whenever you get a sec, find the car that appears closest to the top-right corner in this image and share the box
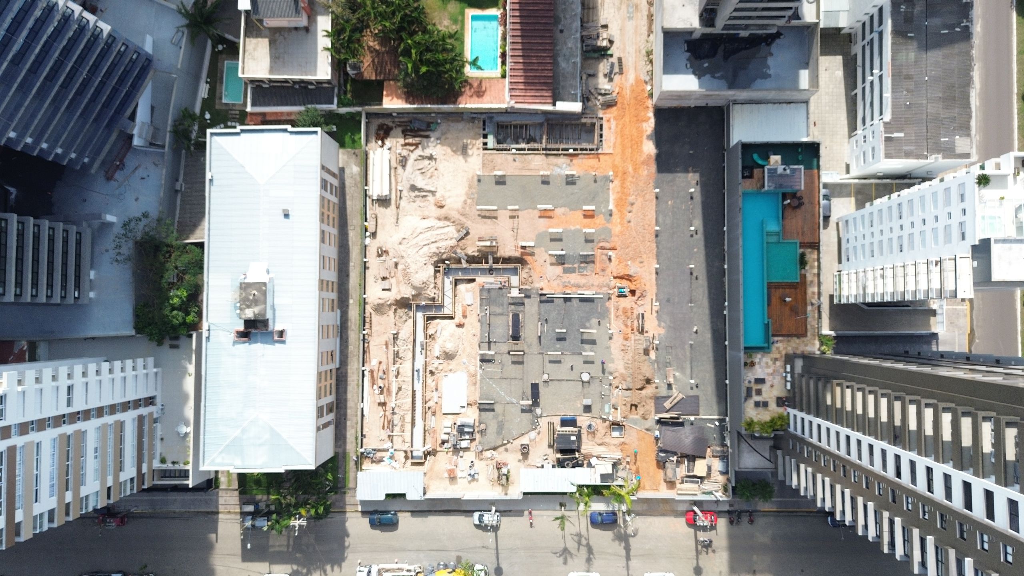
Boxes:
[820,189,836,218]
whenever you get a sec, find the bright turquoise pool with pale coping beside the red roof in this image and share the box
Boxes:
[464,8,501,77]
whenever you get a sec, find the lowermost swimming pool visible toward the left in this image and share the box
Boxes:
[215,55,246,109]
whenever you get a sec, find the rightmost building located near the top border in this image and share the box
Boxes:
[819,0,979,177]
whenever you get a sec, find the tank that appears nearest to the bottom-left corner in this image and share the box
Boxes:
[239,282,273,319]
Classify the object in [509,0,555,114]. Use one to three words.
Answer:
building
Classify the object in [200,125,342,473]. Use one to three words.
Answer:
building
